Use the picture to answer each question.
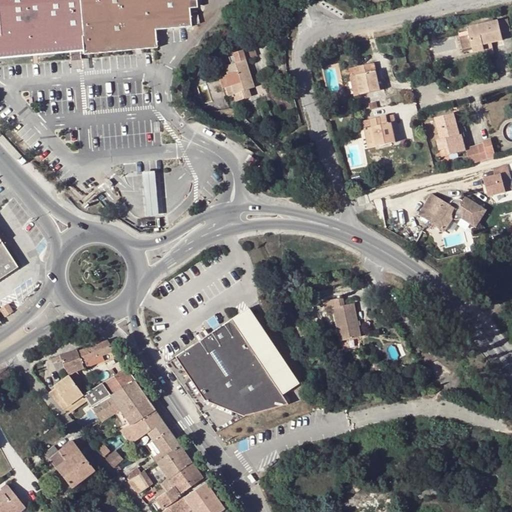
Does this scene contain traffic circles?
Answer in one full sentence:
Yes, a traffic circle appears in the view.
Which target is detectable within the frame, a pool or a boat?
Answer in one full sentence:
There is a pool in the scene.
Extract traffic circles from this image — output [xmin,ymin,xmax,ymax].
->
[52,229,142,318]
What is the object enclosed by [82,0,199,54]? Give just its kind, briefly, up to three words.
building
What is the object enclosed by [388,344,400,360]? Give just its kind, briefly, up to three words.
swimming pool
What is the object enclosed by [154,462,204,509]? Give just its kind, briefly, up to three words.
house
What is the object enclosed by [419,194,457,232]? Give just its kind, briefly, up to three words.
house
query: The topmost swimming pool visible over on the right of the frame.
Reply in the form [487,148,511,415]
[322,64,342,92]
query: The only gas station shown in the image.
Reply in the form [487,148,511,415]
[138,171,166,232]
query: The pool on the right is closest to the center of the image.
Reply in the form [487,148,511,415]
[344,140,368,170]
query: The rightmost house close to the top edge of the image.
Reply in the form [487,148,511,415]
[458,20,502,52]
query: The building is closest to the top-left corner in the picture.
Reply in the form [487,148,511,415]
[0,0,84,58]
